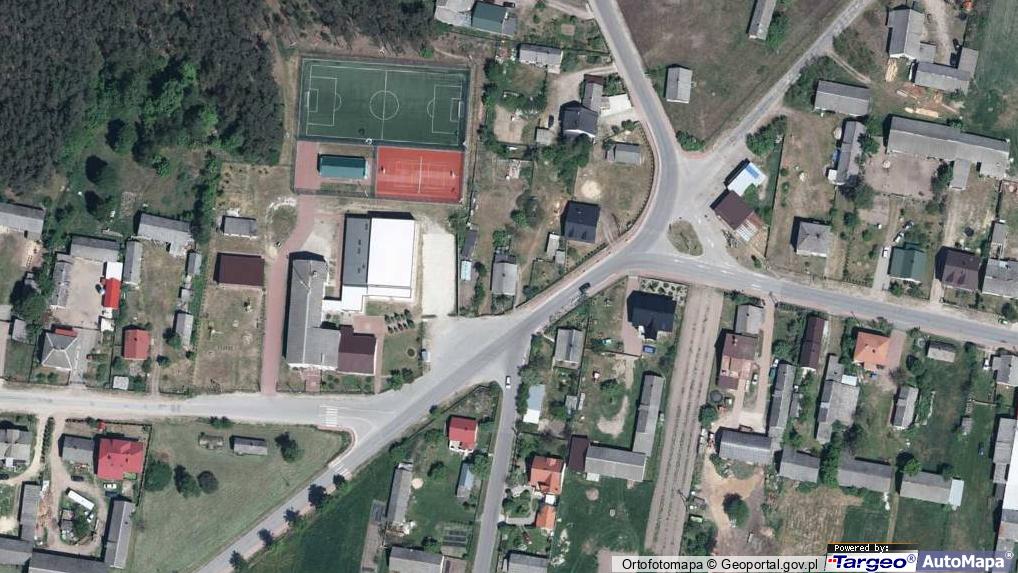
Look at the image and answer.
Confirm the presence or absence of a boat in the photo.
No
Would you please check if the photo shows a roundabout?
No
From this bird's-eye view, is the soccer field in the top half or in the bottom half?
top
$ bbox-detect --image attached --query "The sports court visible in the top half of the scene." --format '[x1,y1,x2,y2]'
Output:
[376,147,464,202]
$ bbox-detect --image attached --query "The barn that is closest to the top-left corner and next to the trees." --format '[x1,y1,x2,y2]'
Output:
[0,204,44,241]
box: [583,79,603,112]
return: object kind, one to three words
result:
barn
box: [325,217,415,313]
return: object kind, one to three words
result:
building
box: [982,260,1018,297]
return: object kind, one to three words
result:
house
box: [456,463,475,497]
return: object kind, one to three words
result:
shed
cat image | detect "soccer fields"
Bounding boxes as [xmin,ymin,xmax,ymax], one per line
[297,58,470,146]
